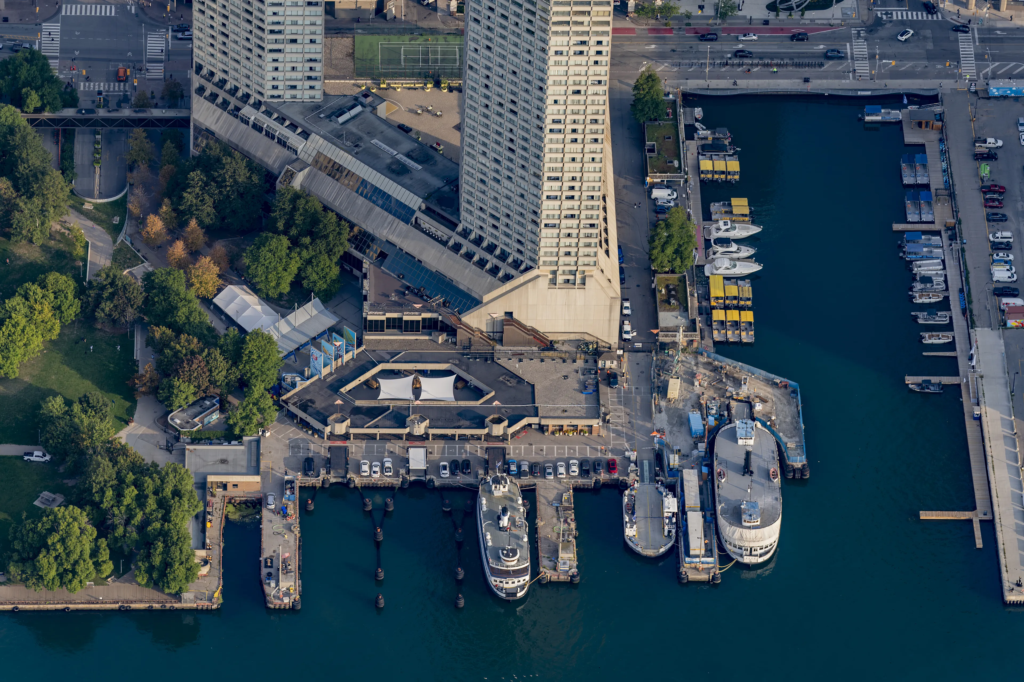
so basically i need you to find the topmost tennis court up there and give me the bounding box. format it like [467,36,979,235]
[355,22,462,78]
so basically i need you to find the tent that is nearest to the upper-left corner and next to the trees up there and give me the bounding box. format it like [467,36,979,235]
[212,284,282,327]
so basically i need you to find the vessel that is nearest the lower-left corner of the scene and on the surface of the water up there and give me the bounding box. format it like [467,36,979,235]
[476,460,535,599]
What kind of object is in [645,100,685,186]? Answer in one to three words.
shed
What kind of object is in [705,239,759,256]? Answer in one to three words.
boat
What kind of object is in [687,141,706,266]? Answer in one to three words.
pier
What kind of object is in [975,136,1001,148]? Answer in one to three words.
vehicle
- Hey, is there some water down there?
Yes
